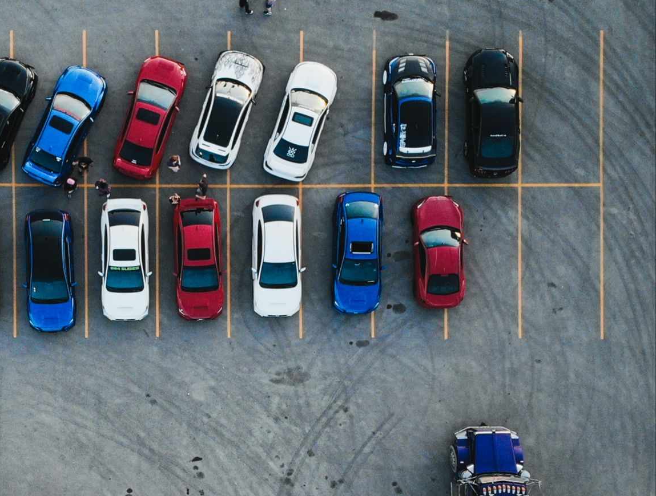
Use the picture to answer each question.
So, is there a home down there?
No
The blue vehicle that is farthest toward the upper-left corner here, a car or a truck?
car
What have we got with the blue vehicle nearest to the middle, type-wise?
automobile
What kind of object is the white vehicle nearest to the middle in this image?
automobile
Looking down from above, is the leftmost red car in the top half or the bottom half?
top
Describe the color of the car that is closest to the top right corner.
black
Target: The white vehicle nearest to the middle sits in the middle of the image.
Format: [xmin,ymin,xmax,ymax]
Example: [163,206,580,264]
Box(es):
[249,193,308,317]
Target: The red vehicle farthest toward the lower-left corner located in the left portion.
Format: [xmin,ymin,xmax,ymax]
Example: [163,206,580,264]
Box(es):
[170,197,230,320]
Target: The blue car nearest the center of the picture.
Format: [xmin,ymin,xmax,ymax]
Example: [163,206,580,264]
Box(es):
[331,189,390,314]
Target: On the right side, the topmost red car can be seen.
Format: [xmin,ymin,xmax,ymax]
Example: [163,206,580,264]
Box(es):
[411,195,472,309]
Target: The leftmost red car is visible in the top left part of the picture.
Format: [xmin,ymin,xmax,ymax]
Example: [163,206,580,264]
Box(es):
[109,56,185,180]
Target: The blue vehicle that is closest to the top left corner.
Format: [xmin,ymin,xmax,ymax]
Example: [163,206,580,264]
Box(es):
[21,65,105,186]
